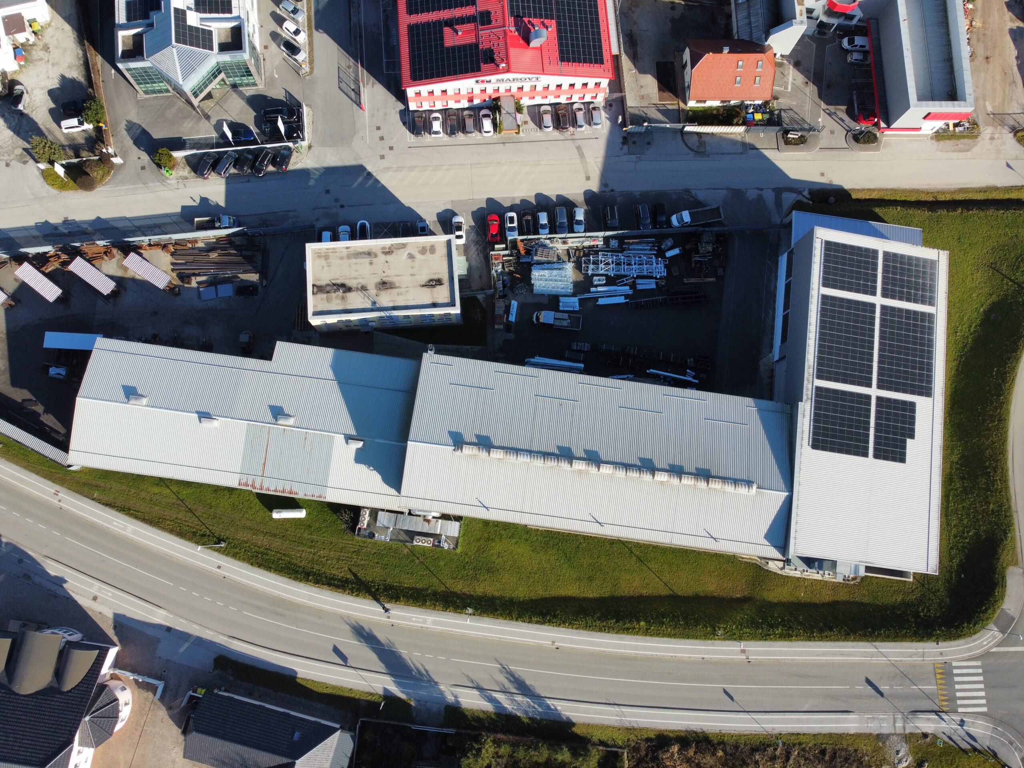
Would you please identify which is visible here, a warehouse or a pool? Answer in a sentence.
Visible in the photo is a warehouse.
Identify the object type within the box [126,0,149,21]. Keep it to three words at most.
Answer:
solar array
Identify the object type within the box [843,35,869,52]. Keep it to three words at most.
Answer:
vehicle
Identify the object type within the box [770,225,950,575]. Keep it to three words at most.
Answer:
warehouse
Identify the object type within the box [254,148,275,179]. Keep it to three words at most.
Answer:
car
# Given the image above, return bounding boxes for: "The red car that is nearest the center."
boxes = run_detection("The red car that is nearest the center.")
[486,215,501,243]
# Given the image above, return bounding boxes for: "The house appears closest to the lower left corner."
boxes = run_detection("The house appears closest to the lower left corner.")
[0,627,133,768]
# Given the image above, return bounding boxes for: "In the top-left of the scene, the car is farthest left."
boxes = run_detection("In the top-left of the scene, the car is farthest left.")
[10,85,29,112]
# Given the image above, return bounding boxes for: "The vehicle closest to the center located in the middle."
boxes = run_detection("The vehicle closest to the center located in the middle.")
[532,310,582,330]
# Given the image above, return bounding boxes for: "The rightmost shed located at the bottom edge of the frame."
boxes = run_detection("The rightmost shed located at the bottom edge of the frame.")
[182,689,342,768]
